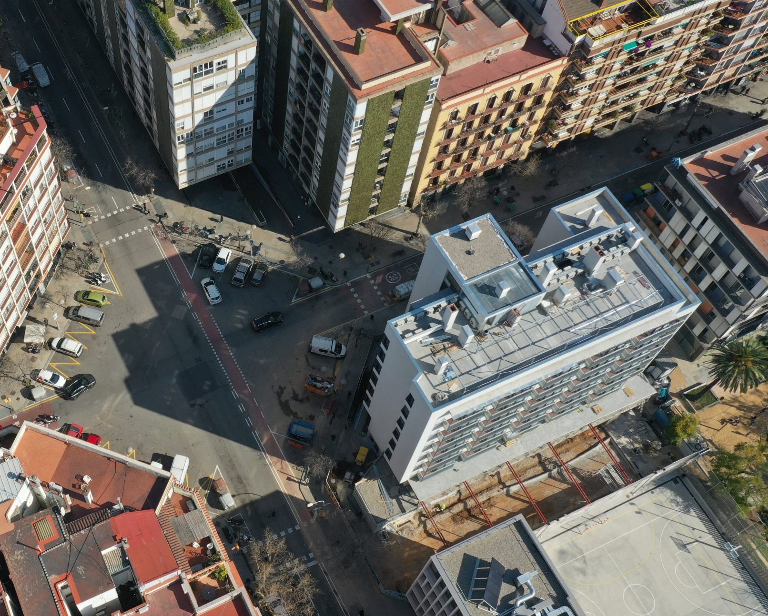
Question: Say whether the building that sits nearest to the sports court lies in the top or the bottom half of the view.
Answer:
bottom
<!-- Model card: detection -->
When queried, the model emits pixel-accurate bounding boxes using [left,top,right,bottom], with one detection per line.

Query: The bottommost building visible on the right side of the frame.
[405,515,582,616]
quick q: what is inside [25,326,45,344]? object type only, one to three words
umbrella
